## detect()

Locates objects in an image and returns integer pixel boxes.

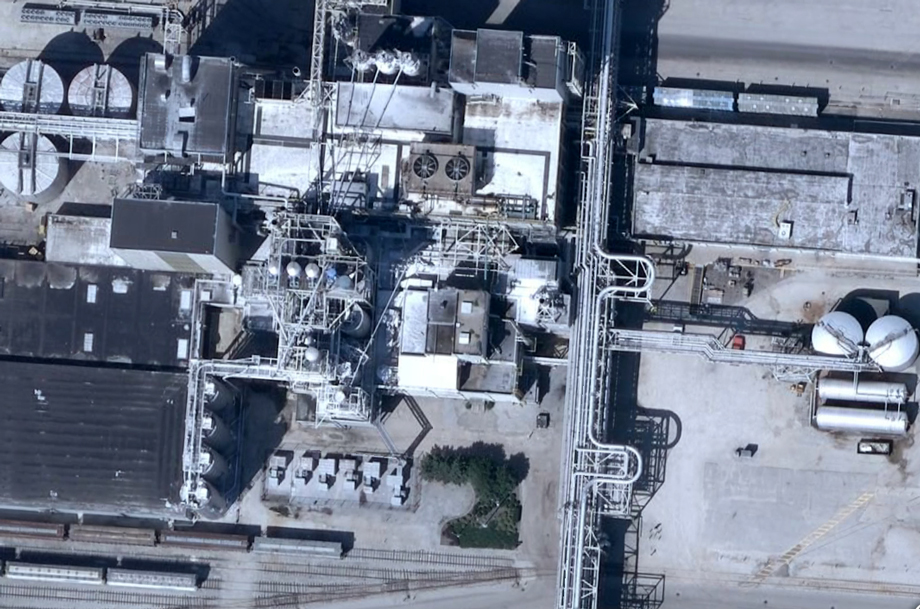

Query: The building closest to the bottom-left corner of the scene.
[0,365,188,524]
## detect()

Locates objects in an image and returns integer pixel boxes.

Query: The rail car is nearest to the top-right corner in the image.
[737,94,821,117]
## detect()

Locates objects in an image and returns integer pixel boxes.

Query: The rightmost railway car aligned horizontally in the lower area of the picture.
[253,536,345,559]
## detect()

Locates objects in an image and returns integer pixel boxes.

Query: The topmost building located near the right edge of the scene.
[633,118,920,272]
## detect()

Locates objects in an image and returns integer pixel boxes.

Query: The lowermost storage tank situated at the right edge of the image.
[816,393,909,435]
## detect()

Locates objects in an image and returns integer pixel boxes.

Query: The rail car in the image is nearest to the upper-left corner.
[21,7,80,27]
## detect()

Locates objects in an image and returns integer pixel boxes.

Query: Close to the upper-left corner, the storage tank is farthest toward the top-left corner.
[1,54,72,113]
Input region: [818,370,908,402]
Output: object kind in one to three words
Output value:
storage tank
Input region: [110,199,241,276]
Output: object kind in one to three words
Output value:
building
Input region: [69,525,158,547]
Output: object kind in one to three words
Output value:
rail car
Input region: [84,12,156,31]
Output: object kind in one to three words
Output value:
rail car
